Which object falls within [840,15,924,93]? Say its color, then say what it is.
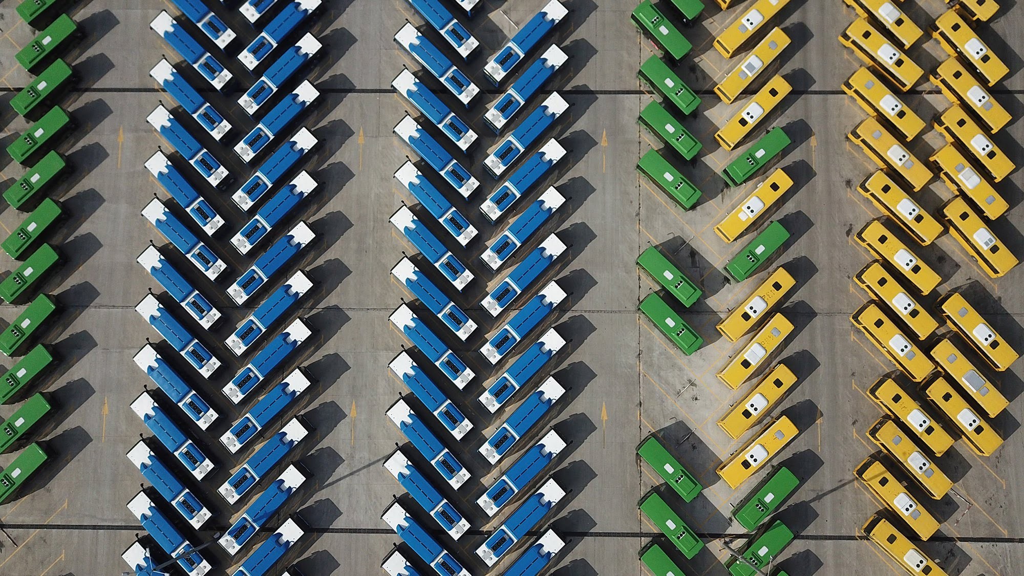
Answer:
yellow bus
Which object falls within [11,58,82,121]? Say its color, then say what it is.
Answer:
green bus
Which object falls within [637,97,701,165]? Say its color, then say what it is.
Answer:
green bus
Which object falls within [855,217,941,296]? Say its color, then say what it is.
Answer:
yellow bus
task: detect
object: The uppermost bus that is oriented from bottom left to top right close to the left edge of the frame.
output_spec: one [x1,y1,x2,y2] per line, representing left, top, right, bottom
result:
[16,13,87,77]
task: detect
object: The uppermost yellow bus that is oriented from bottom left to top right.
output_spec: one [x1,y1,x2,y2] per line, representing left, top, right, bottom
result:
[713,0,788,60]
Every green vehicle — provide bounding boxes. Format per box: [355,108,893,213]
[0,291,66,356]
[0,341,64,404]
[0,390,62,454]
[11,58,82,121]
[635,242,701,308]
[0,241,70,304]
[638,537,688,576]
[731,464,803,530]
[637,97,701,165]
[635,145,700,212]
[2,196,73,261]
[17,0,74,30]
[631,0,694,67]
[16,13,87,77]
[722,126,794,187]
[725,516,797,576]
[637,52,700,121]
[658,0,703,28]
[8,104,80,168]
[0,440,59,504]
[637,486,703,558]
[635,432,701,501]
[4,149,76,212]
[637,288,702,355]
[723,219,794,283]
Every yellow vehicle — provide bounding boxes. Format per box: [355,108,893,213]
[933,101,1015,185]
[929,54,1012,136]
[925,144,1009,225]
[714,74,794,152]
[917,372,1004,455]
[715,310,796,389]
[850,113,933,194]
[855,455,940,539]
[868,373,954,455]
[713,0,788,60]
[840,15,924,93]
[859,167,943,246]
[713,167,795,244]
[851,299,935,380]
[928,7,1009,89]
[862,512,943,576]
[933,288,1019,370]
[923,334,1009,416]
[715,265,798,342]
[843,0,923,53]
[947,0,999,28]
[855,258,938,339]
[868,414,954,498]
[855,217,941,296]
[716,360,800,438]
[715,411,801,487]
[935,193,1019,277]
[713,26,793,106]
[842,64,925,144]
